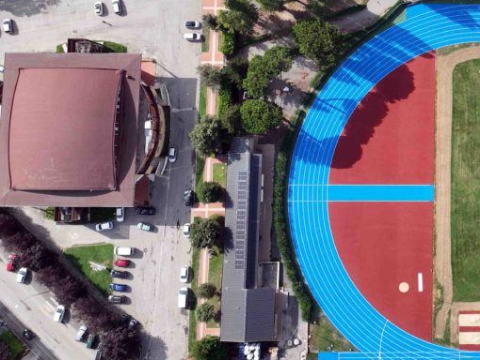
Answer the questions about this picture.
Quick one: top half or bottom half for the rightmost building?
bottom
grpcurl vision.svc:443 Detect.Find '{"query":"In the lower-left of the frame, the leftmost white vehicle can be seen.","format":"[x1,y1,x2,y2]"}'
[16,265,30,285]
